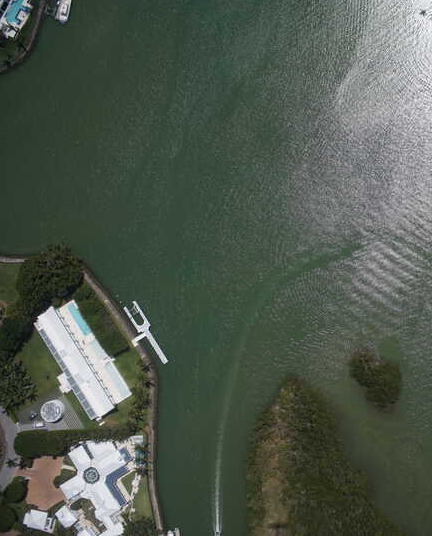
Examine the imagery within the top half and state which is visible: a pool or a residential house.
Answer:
pool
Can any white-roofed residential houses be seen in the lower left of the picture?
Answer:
Yes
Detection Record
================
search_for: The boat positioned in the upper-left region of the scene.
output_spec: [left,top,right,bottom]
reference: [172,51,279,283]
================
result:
[57,0,69,22]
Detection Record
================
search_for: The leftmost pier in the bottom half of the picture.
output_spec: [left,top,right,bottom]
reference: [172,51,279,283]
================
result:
[124,301,169,363]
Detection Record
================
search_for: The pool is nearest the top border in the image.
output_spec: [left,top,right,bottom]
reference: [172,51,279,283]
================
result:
[5,0,24,24]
